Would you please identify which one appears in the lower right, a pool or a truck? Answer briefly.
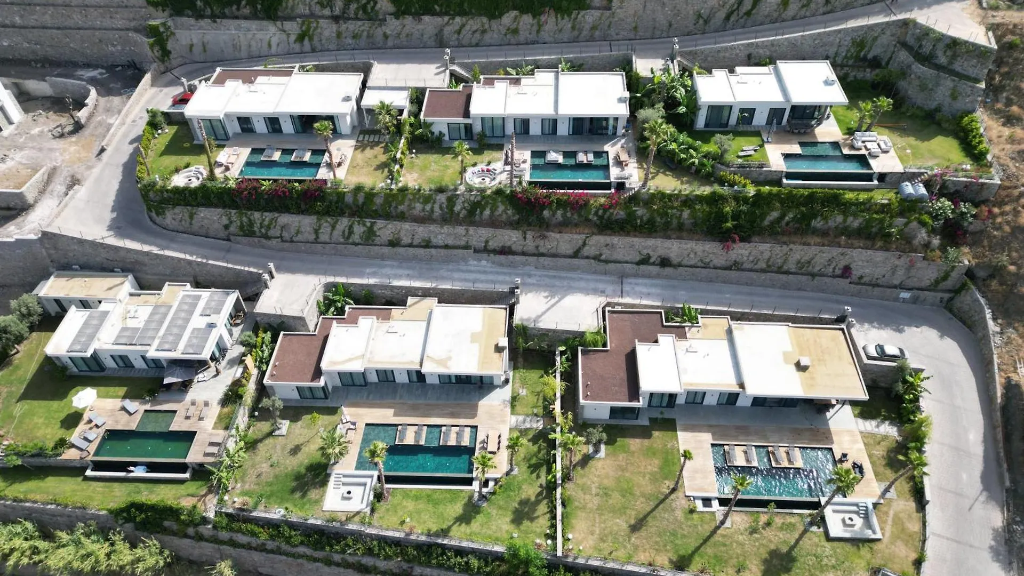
pool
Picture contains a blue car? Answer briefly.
No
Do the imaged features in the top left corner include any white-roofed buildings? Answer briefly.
Yes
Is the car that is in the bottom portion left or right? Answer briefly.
right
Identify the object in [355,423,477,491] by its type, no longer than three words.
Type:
swimming pool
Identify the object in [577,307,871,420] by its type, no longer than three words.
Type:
house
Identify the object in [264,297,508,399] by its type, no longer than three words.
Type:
house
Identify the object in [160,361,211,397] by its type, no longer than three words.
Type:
umbrella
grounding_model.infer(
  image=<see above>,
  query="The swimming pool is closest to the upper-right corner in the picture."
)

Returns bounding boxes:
[781,142,882,195]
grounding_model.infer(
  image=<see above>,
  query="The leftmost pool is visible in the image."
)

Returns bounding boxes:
[84,410,197,484]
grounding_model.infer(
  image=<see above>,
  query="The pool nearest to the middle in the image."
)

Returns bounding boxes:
[530,150,611,204]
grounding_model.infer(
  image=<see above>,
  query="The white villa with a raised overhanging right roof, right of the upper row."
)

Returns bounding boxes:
[686,57,853,127]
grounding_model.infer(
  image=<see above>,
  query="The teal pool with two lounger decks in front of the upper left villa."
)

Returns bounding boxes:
[237,148,325,188]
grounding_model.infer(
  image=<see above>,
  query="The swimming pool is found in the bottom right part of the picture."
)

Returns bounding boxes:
[710,442,849,517]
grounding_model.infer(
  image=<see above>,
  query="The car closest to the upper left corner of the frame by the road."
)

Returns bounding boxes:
[167,89,196,105]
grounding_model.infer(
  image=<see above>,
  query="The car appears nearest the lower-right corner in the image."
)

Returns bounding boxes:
[863,342,912,363]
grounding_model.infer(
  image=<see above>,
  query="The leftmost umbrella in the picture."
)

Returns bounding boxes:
[70,388,100,412]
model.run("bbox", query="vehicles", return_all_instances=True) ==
[863,342,912,363]
[167,89,196,105]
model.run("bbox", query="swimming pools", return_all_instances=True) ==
[710,442,849,517]
[237,148,325,188]
[355,423,477,491]
[530,150,611,204]
[84,410,197,484]
[781,142,882,195]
